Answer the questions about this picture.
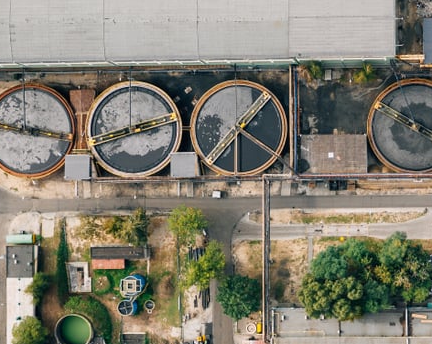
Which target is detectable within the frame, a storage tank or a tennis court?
storage tank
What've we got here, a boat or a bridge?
bridge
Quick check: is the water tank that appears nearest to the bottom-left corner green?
Yes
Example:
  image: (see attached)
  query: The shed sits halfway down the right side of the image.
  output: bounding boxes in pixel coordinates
[300,134,367,175]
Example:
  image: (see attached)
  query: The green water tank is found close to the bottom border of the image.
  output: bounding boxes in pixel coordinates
[55,312,98,344]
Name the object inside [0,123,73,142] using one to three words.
bridge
